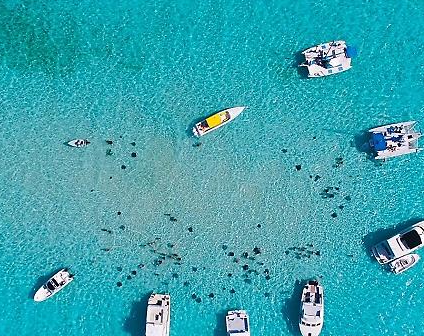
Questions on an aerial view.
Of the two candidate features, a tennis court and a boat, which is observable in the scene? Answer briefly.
boat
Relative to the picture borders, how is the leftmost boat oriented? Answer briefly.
at an angle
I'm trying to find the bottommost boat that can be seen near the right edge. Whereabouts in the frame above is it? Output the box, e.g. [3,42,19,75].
[388,256,420,274]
